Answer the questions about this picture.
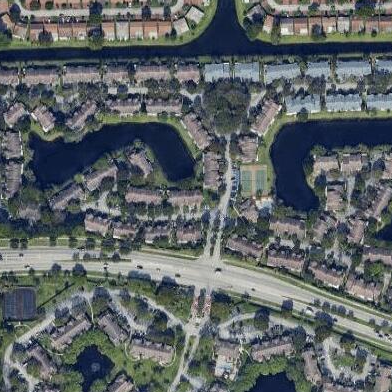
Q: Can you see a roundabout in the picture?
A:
No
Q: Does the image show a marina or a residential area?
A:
residential area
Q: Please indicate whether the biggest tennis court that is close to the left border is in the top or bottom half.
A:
bottom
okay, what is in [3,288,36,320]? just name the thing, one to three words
tennis court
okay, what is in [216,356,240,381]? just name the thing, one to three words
swimming pool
